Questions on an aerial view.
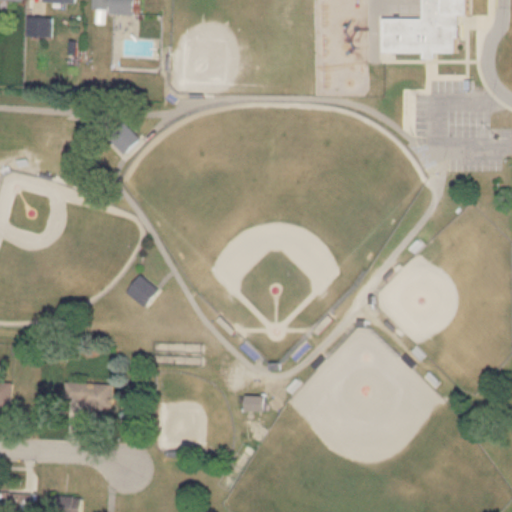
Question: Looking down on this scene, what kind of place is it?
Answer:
sports ground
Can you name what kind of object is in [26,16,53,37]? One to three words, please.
building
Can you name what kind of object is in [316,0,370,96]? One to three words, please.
playground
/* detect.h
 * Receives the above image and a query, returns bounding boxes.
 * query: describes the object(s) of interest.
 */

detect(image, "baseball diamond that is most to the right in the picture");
[378,206,512,390]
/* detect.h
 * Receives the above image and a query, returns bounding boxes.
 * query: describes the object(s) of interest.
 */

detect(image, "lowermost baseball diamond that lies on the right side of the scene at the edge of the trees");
[225,327,510,512]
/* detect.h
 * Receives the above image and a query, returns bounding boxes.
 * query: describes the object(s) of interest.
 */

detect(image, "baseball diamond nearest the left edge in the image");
[0,172,147,327]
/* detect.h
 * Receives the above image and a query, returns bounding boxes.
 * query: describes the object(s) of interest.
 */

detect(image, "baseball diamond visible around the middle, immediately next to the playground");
[123,102,426,360]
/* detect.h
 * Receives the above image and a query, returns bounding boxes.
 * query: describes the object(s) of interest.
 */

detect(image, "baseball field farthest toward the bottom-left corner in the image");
[158,400,208,451]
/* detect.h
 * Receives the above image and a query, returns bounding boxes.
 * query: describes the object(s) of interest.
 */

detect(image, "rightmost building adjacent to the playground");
[380,0,466,60]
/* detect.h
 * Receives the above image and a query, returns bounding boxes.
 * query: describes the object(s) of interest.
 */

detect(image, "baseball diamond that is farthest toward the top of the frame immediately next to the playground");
[170,0,316,95]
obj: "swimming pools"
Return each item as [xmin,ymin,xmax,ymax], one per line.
[122,39,154,58]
